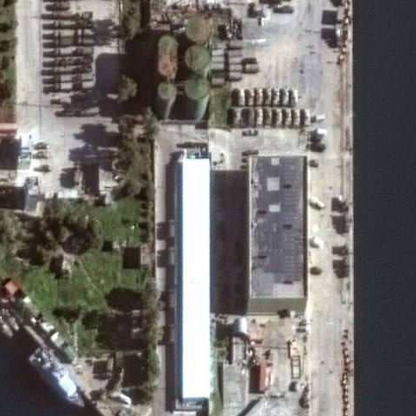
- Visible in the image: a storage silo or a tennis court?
storage silo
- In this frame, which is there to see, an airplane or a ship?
ship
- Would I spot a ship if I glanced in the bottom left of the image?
Yes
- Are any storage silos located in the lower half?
No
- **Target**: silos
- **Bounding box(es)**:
[155,35,178,67]
[182,15,211,52]
[182,77,211,118]
[155,82,177,117]
[155,62,177,92]
[182,45,211,83]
